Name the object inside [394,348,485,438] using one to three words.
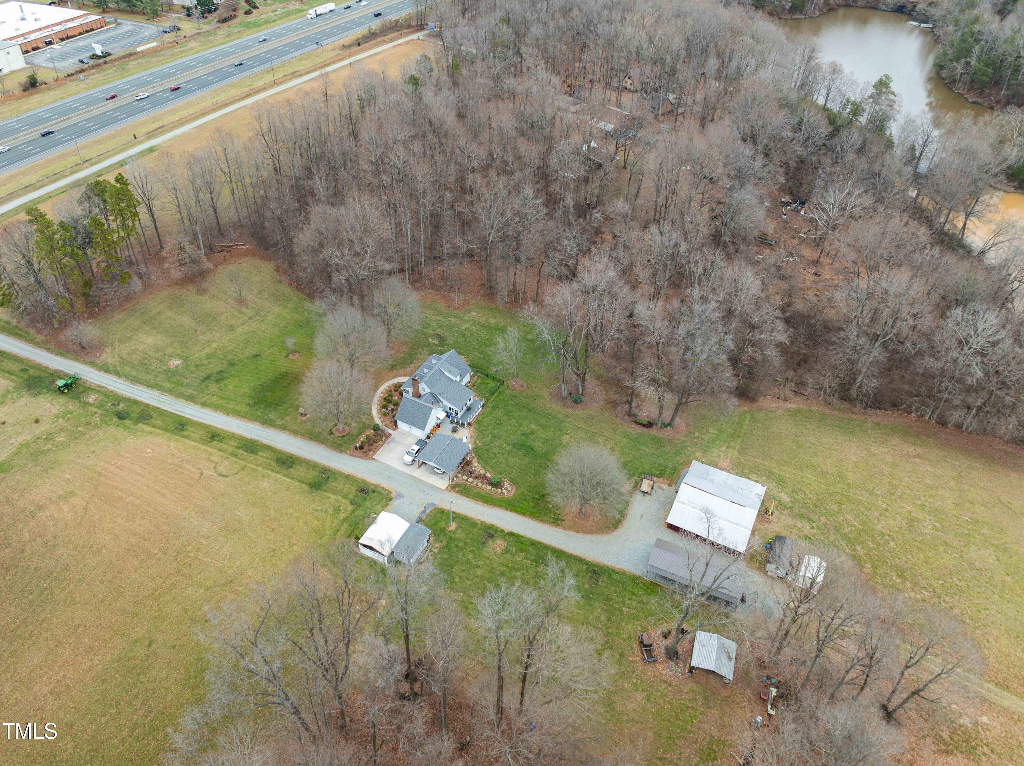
house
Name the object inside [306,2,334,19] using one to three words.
vehicle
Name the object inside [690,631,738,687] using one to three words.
shed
